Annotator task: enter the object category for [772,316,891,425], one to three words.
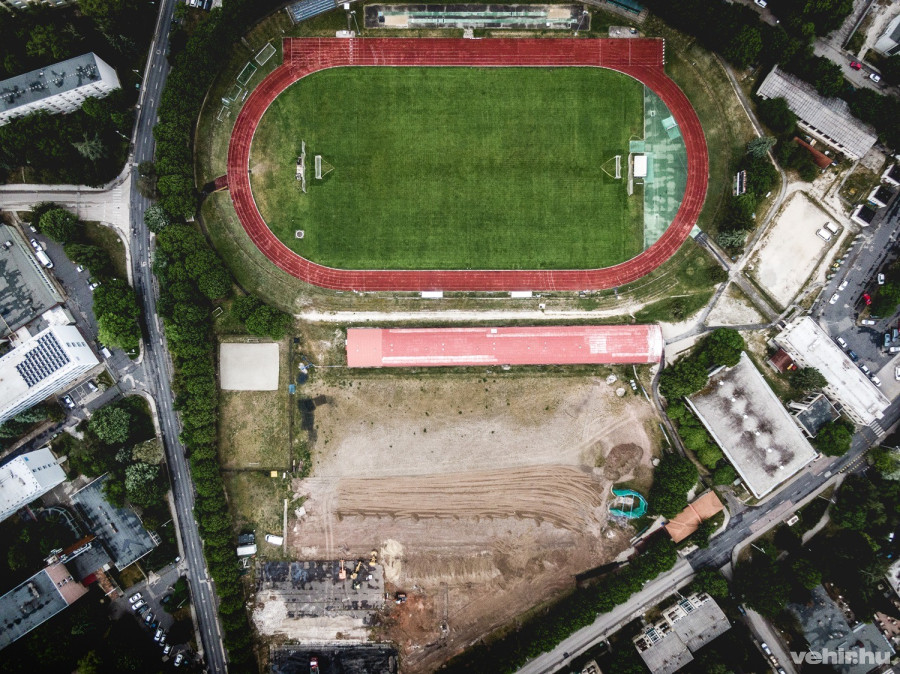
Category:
building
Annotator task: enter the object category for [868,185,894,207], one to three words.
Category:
house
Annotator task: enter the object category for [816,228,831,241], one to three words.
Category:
vehicle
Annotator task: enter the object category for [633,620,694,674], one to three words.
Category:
building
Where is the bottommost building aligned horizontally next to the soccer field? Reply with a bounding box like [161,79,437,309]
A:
[346,324,663,367]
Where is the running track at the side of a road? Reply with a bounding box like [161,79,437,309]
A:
[228,38,708,291]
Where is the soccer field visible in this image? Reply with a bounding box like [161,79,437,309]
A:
[249,68,642,270]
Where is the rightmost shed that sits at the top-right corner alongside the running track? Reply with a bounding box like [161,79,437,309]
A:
[754,66,877,160]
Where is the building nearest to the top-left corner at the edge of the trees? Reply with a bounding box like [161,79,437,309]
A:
[0,52,122,128]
